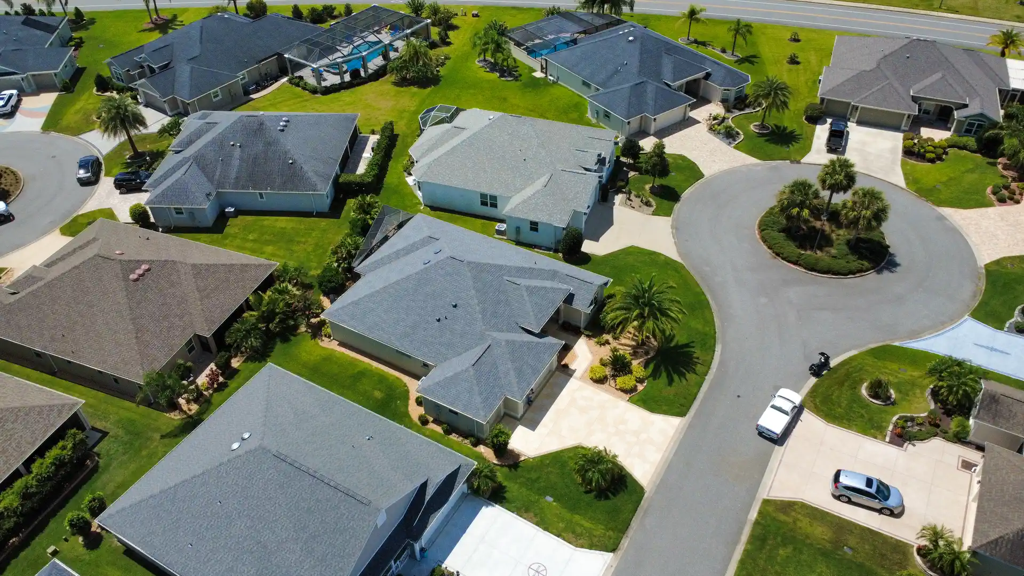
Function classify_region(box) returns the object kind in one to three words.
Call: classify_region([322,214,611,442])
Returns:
house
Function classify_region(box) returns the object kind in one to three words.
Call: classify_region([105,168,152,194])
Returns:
car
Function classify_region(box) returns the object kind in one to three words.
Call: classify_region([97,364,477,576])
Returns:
house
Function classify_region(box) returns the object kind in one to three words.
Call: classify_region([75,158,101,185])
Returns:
car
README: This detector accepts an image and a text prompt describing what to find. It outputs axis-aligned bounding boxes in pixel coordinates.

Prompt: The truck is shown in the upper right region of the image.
[825,119,850,149]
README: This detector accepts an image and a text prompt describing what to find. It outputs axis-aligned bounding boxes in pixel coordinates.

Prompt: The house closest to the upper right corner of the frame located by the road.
[818,35,1024,142]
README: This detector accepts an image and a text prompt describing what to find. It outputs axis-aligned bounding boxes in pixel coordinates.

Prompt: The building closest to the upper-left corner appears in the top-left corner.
[0,14,87,96]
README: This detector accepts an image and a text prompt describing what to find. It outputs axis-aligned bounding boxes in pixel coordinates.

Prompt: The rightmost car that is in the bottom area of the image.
[831,464,904,514]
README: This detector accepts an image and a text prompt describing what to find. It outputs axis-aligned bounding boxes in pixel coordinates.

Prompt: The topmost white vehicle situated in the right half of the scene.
[756,385,806,447]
